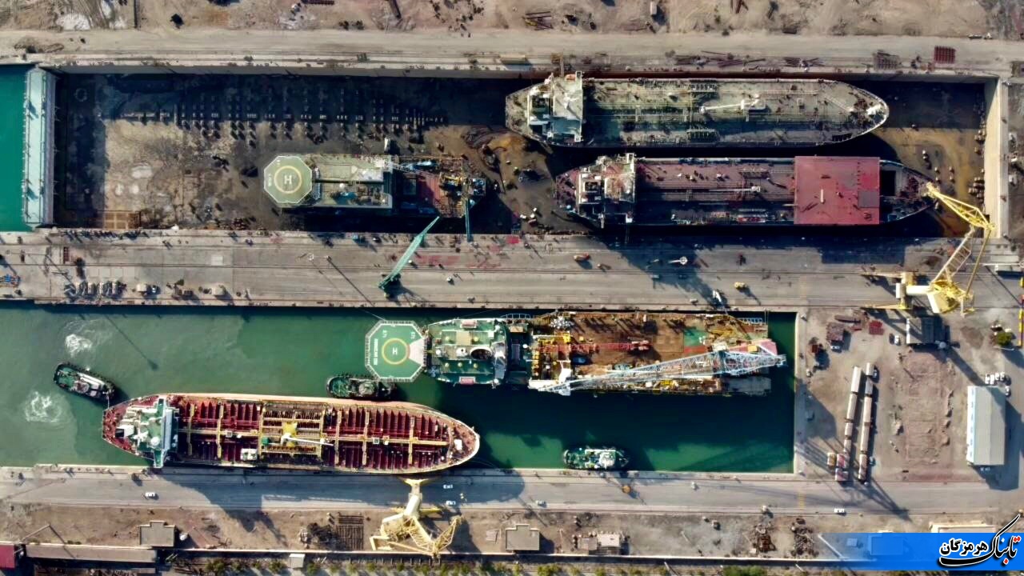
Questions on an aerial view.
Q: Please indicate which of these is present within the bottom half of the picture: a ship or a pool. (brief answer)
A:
ship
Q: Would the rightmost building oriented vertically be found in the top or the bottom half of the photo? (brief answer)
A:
bottom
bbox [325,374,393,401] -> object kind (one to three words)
boat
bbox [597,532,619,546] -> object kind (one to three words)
shed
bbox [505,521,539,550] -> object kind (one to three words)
building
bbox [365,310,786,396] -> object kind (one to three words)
ship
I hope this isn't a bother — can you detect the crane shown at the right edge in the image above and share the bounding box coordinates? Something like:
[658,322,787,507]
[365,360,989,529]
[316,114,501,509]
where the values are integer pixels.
[864,181,997,323]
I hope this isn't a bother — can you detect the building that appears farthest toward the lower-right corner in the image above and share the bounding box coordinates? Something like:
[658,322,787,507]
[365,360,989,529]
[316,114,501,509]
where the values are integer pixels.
[925,521,994,534]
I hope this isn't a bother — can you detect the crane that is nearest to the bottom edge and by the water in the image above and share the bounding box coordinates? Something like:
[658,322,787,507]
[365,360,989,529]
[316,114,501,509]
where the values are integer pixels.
[366,479,466,559]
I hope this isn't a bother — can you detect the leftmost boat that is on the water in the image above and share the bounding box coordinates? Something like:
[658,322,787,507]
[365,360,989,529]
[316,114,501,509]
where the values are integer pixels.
[50,363,113,402]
